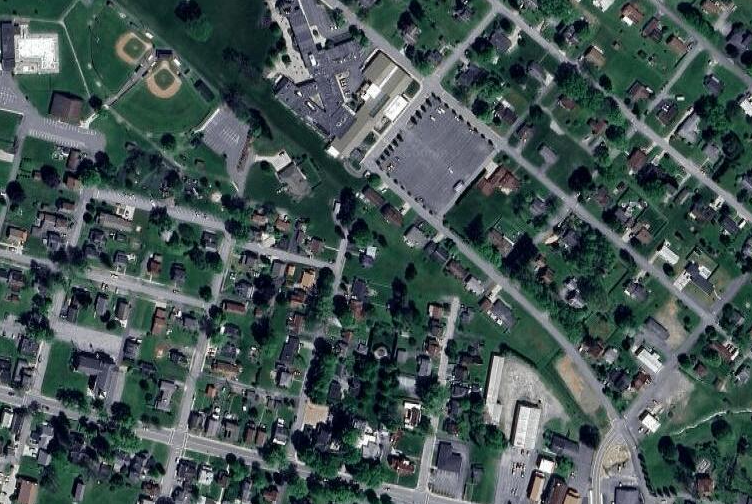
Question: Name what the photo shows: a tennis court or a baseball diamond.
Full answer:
There is a baseball diamond in the scene.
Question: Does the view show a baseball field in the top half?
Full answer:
Yes, I can see a baseball field in the top half.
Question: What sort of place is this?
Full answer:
This image shows a residential area.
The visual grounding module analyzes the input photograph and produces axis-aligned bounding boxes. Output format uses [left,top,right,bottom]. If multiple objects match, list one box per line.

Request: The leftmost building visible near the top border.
[0,21,16,70]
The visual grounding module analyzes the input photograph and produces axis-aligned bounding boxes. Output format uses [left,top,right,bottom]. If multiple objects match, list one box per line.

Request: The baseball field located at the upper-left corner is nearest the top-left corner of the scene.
[90,17,153,91]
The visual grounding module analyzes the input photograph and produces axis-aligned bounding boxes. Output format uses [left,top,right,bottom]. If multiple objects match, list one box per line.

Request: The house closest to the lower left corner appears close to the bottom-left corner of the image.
[17,480,38,504]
